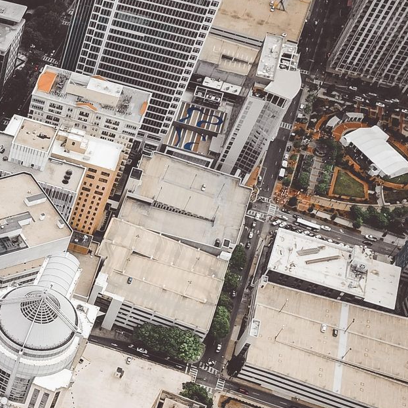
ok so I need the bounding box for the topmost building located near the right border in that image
[329,0,408,92]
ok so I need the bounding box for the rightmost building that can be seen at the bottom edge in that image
[235,267,408,408]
